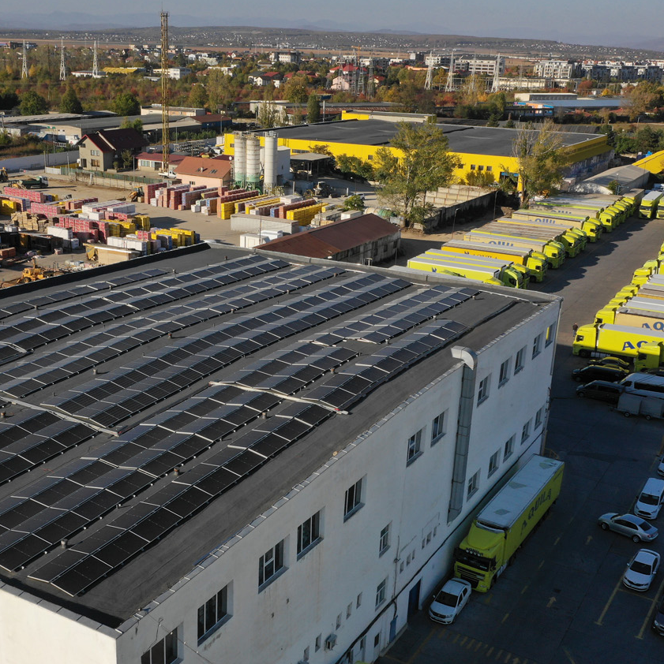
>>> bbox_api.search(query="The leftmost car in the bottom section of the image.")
[427,581,473,627]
